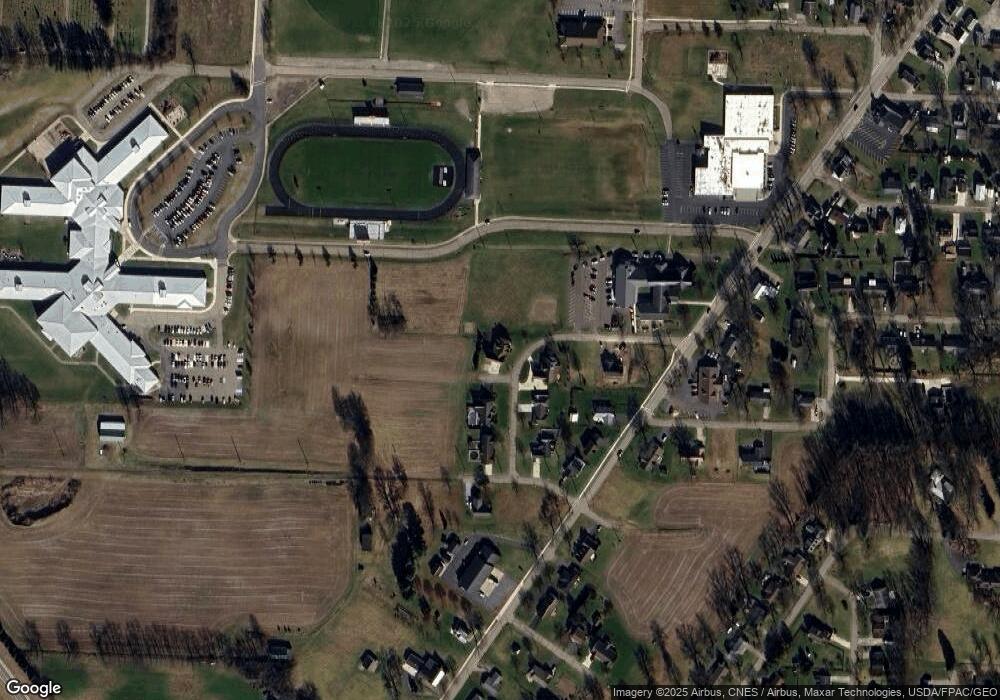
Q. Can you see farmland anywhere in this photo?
Yes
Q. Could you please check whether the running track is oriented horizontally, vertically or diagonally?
horizontally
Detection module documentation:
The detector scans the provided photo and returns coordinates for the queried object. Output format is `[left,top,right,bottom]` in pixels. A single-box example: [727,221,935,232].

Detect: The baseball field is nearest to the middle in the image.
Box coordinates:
[524,292,561,328]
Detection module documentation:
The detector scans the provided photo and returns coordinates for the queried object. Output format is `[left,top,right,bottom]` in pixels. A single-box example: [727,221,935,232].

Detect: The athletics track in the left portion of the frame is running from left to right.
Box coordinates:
[266,124,466,217]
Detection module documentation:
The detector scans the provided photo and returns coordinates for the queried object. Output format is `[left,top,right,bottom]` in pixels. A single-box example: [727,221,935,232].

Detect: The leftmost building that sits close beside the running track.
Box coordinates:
[0,111,207,394]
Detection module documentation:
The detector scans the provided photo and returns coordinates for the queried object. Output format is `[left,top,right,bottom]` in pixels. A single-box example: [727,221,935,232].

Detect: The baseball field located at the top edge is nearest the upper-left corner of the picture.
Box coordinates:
[308,0,379,41]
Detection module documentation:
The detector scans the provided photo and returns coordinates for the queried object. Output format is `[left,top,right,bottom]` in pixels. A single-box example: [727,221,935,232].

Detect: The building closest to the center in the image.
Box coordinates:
[484,333,513,360]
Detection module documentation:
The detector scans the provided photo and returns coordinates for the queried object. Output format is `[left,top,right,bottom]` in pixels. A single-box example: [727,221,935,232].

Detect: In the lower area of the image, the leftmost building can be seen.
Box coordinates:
[99,419,125,438]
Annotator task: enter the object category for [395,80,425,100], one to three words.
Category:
building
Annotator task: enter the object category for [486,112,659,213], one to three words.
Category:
sports field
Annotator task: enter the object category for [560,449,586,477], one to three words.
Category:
house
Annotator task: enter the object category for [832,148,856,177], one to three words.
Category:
house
